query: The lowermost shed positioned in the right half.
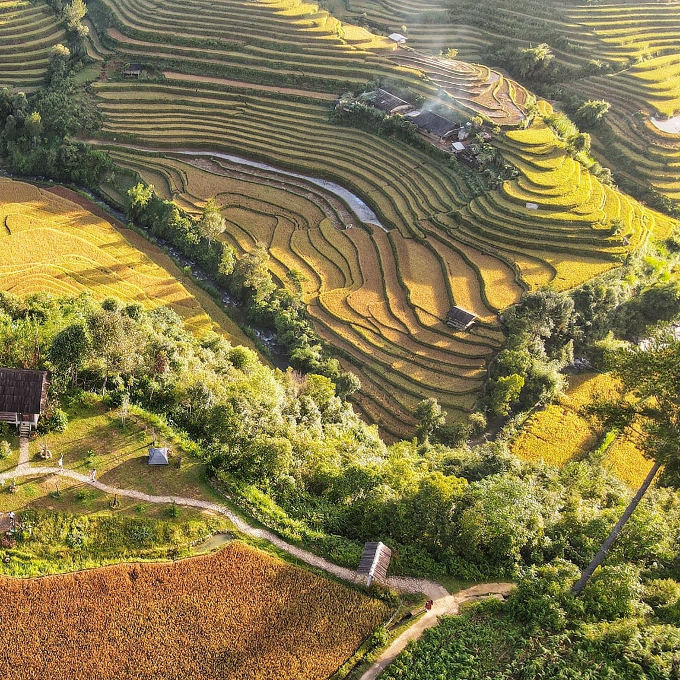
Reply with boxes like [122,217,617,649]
[444,305,478,336]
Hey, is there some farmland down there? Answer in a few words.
Yes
